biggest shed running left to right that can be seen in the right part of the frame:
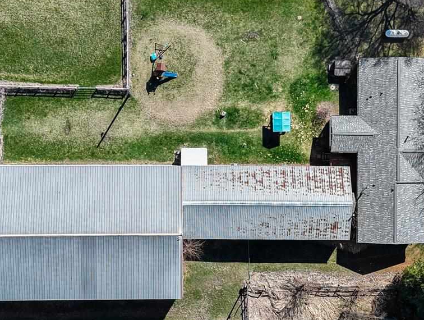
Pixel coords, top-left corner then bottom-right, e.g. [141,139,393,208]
[183,166,358,239]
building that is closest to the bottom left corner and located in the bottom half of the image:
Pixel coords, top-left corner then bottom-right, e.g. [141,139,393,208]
[0,164,183,300]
